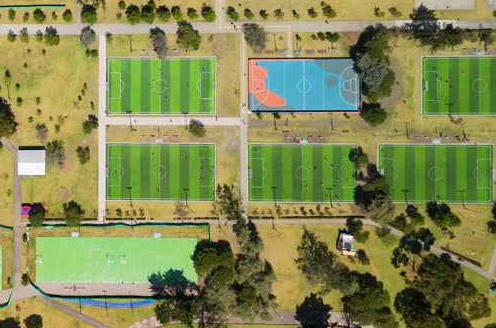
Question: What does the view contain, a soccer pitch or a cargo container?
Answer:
soccer pitch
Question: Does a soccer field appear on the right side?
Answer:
Yes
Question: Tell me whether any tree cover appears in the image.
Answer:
Yes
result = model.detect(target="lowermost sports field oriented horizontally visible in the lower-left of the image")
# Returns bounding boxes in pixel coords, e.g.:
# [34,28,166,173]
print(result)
[35,236,197,283]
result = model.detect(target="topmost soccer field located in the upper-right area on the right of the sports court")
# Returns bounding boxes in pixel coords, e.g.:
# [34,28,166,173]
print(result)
[421,56,496,116]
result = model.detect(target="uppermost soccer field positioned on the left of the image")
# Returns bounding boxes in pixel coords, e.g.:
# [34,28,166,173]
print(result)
[107,57,216,114]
